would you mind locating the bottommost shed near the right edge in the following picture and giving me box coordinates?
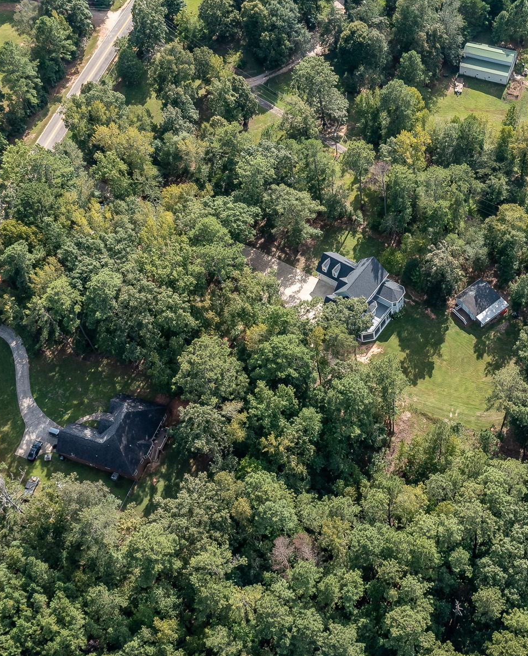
[446,281,504,331]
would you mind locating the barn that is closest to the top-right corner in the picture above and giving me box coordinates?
[459,42,519,85]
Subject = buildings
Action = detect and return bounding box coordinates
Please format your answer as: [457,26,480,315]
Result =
[55,393,170,479]
[315,252,406,342]
[446,281,504,331]
[459,42,519,85]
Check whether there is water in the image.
No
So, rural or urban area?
rural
